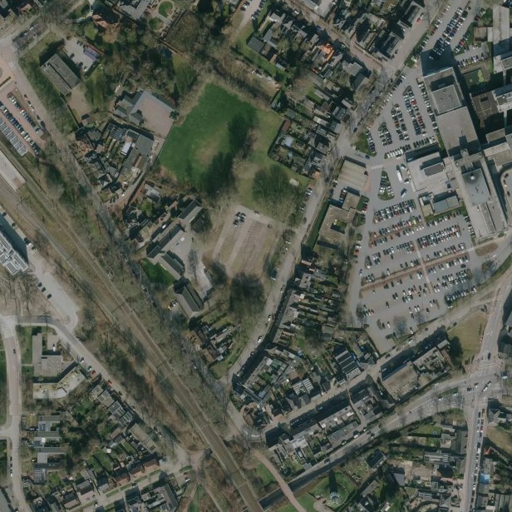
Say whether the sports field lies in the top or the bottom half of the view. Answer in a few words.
top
